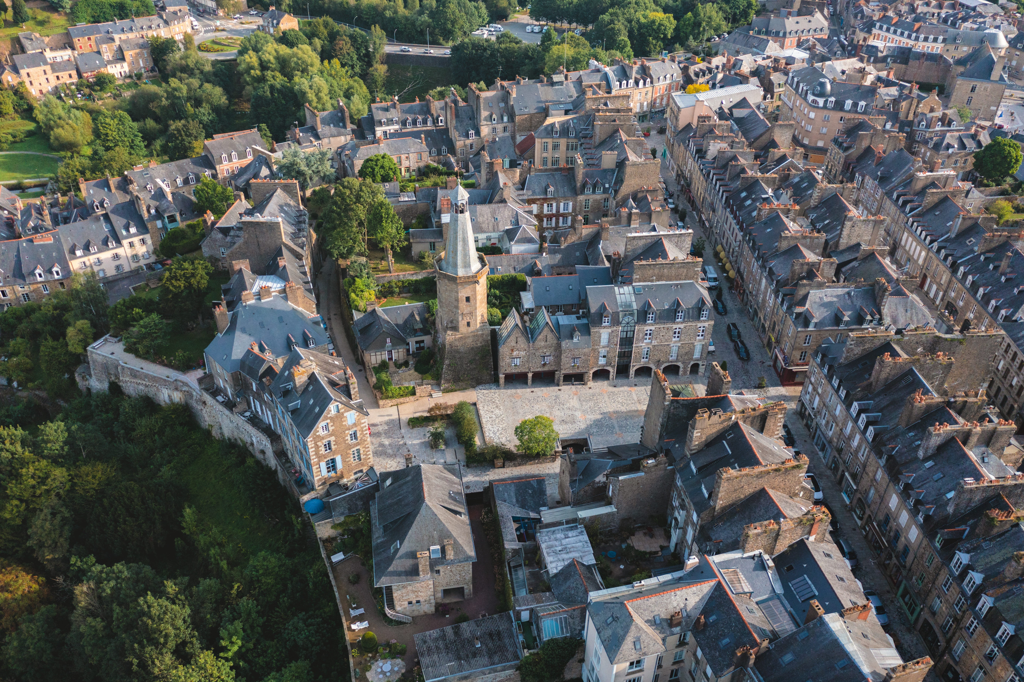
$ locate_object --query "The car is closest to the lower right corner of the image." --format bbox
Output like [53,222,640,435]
[863,588,895,622]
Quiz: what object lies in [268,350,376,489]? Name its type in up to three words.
house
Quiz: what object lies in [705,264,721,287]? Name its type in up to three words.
vehicle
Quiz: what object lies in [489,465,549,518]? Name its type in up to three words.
shed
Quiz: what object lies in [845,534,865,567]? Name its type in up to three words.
car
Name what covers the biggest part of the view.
buildings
